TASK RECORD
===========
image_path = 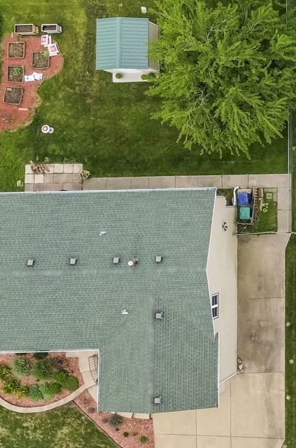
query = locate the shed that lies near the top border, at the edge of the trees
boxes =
[96,15,157,82]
